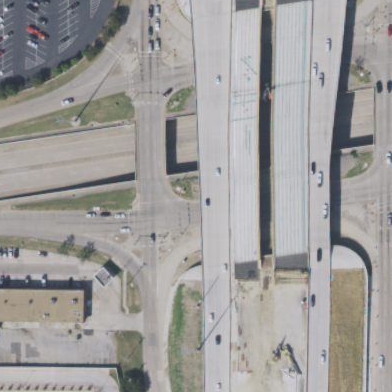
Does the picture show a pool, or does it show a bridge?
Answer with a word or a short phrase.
bridge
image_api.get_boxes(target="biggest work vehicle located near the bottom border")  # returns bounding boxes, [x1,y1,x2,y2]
[282,347,298,375]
